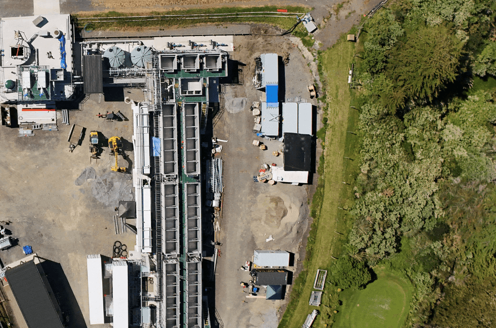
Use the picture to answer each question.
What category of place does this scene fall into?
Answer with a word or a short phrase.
industrial area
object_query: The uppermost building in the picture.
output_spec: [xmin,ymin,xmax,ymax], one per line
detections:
[258,53,280,85]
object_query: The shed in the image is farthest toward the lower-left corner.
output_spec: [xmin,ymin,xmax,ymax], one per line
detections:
[5,255,64,328]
